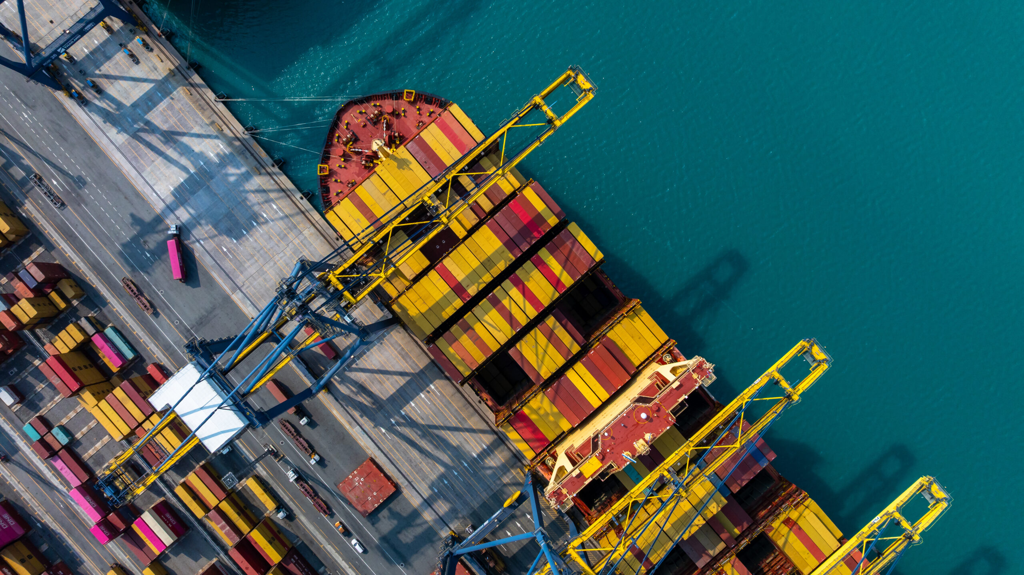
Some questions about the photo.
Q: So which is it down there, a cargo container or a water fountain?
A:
cargo container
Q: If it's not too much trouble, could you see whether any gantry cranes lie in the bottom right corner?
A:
Yes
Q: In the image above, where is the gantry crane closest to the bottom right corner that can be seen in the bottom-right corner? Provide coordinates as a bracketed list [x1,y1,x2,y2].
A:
[803,472,954,575]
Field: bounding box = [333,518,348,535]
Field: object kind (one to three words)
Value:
vehicle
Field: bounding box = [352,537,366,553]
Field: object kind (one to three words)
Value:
car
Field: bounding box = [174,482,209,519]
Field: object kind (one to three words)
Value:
shipping container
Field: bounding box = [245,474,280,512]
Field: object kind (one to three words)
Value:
shipping container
